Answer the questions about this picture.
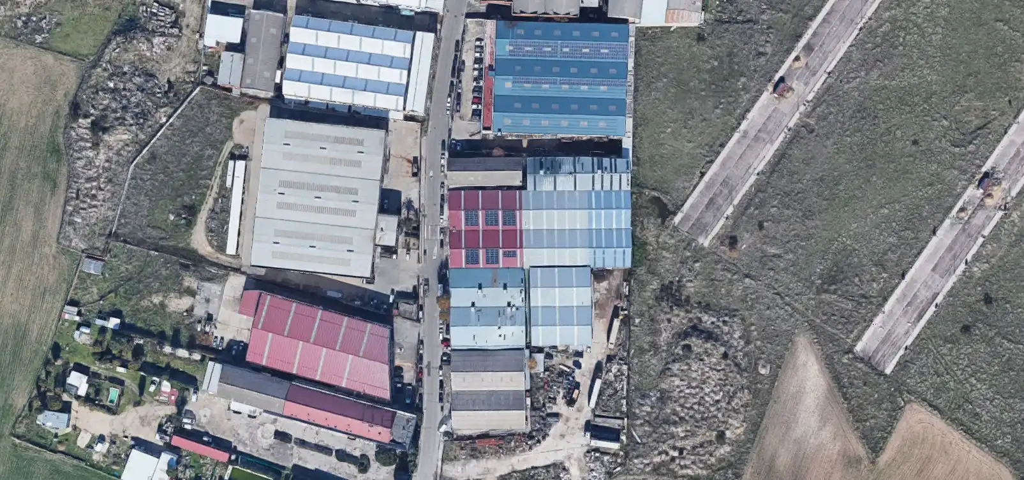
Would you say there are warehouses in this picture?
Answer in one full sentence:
Yes, a warehouse appears in the view.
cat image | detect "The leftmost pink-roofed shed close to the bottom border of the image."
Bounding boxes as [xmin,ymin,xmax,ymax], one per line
[171,434,233,463]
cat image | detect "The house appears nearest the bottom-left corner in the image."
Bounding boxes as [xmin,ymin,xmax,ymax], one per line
[36,409,73,434]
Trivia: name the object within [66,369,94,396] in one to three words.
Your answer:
house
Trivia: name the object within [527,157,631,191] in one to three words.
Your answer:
building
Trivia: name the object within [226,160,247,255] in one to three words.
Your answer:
shed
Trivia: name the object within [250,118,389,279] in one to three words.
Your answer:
warehouse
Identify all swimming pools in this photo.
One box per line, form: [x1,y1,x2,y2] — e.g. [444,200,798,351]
[107,388,119,406]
